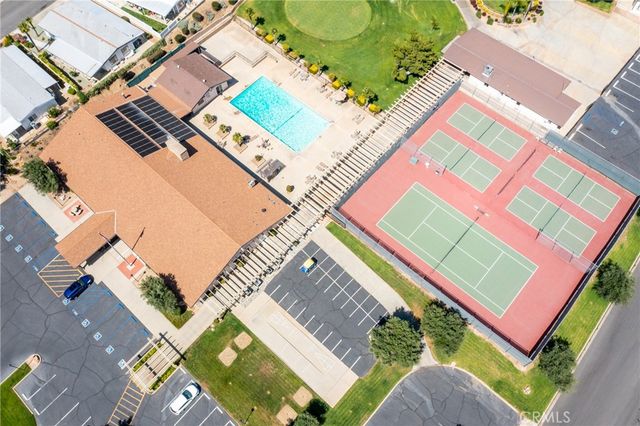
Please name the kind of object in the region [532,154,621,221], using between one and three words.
sports court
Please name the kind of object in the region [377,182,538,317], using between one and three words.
tennis court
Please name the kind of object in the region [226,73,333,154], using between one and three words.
swimming pool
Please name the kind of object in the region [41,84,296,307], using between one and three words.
building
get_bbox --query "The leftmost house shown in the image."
[0,43,62,145]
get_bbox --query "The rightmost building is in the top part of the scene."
[439,29,579,131]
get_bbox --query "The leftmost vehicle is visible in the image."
[60,274,94,302]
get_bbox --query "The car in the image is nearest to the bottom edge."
[167,382,202,417]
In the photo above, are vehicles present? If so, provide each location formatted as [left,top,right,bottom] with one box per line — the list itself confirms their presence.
[60,274,94,302]
[167,382,202,417]
[301,257,318,275]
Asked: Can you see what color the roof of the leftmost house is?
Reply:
white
